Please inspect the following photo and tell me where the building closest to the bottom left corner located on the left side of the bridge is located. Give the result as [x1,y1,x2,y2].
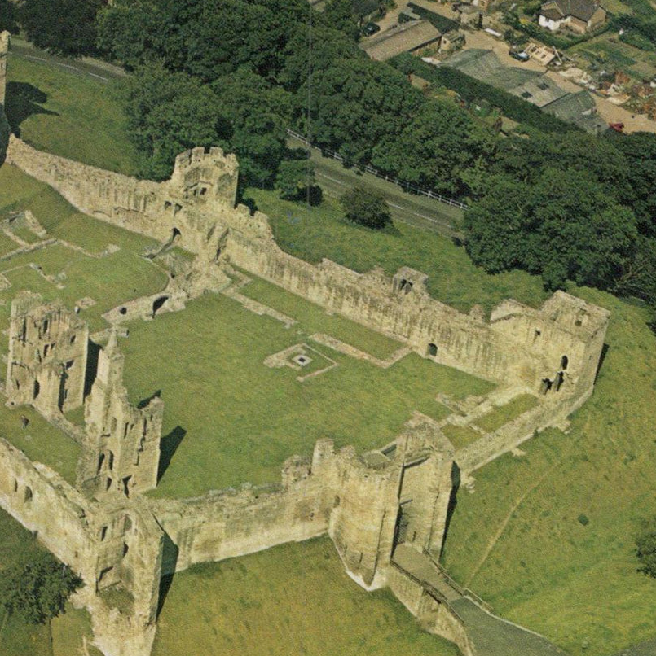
[70,476,171,656]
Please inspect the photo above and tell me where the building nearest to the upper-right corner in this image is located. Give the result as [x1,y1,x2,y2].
[539,0,594,33]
